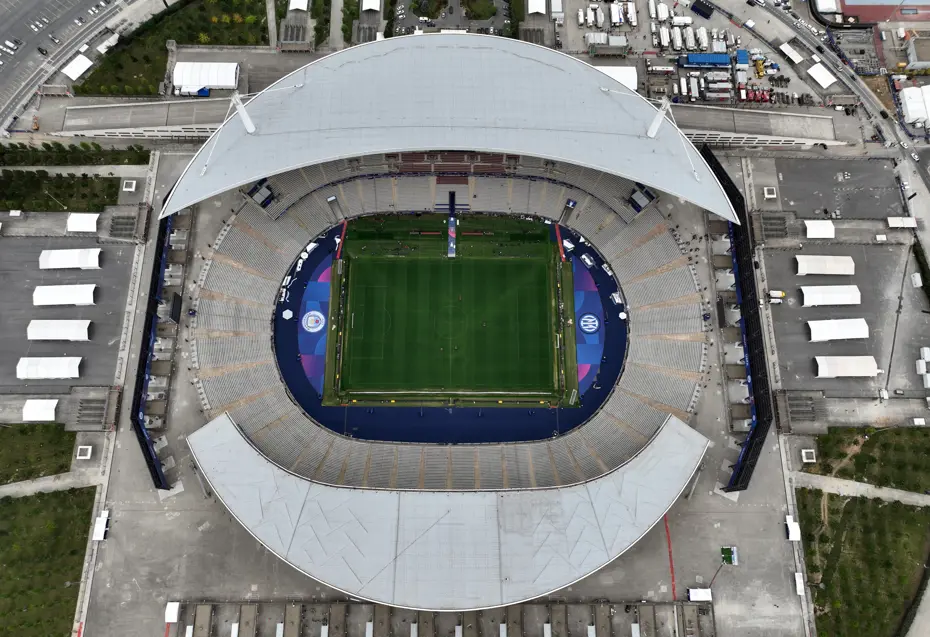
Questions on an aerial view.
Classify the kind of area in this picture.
sports ground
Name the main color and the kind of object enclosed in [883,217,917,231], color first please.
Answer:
white tent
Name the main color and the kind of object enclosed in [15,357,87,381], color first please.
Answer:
white tent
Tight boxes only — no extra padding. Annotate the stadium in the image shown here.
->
[158,32,740,612]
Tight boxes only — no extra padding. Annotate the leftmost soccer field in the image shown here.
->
[322,212,580,407]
